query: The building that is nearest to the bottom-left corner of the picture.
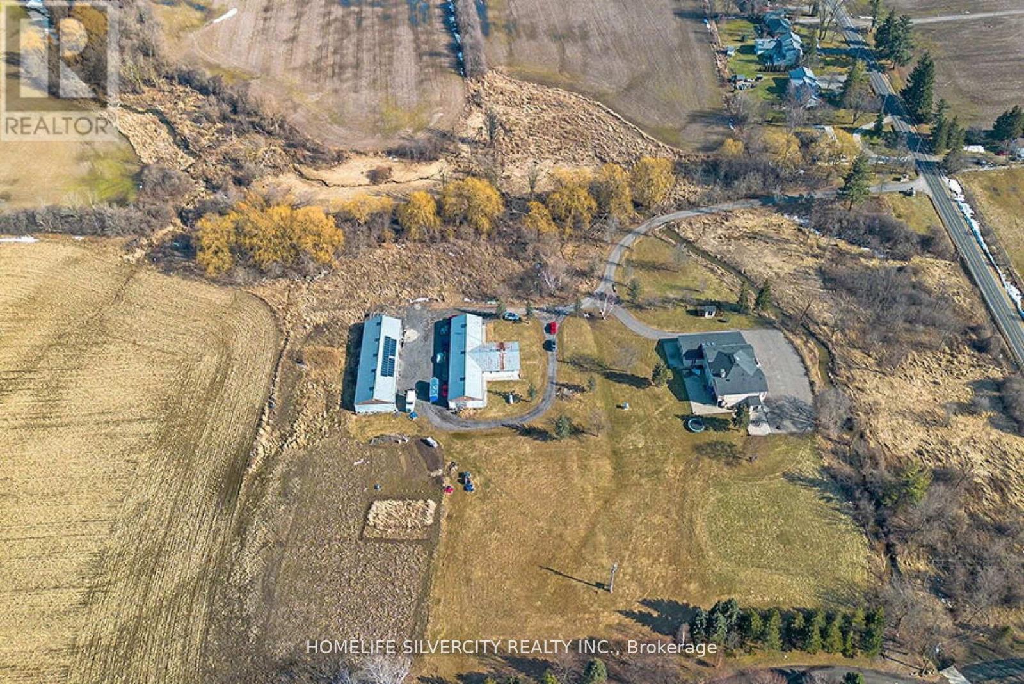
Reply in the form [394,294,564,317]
[355,315,401,411]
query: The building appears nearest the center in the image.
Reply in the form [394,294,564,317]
[448,313,520,411]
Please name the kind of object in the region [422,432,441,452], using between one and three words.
vehicle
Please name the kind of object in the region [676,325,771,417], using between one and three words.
house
